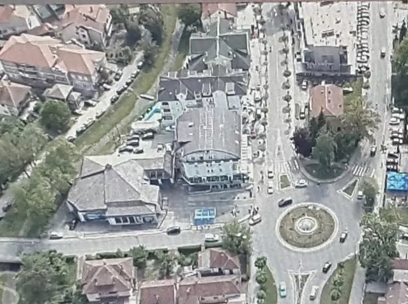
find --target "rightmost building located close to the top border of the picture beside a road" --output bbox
[295,0,359,85]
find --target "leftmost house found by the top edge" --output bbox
[0,1,29,31]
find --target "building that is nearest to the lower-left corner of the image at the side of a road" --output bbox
[82,259,134,304]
